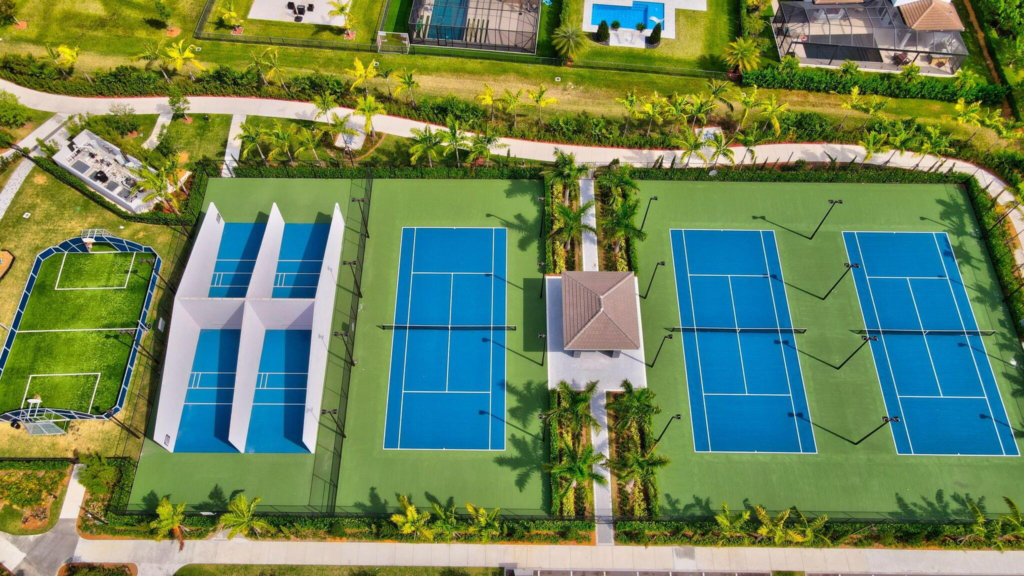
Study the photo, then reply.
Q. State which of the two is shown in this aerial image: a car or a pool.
pool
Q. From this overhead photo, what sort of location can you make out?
sports ground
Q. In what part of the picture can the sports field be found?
left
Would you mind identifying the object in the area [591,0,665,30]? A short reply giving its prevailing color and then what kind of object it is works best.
blue swimming pool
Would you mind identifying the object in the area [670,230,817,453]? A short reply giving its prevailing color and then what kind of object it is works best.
blue tennis court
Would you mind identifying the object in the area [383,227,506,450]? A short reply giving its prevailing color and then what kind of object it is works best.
blue tennis court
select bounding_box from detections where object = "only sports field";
[0,237,160,431]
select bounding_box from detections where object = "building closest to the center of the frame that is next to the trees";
[561,269,642,357]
